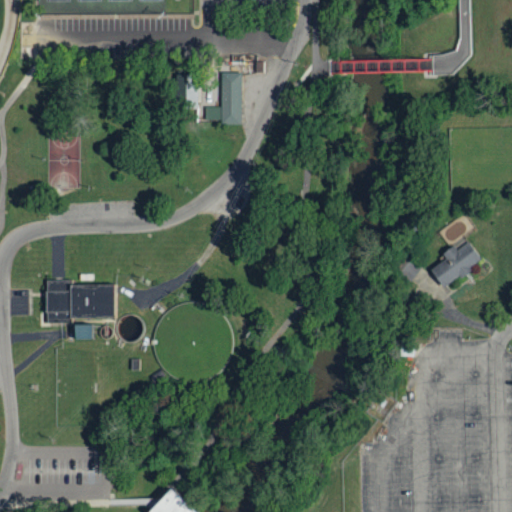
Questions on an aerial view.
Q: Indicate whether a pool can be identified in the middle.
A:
No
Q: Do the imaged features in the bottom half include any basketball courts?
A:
No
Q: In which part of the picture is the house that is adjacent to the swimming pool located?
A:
right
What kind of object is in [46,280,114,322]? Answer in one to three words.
building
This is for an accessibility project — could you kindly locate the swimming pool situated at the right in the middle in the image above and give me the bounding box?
[440,216,472,245]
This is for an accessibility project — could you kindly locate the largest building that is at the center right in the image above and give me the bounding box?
[432,242,480,287]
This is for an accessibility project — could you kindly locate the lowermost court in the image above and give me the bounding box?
[50,135,80,194]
